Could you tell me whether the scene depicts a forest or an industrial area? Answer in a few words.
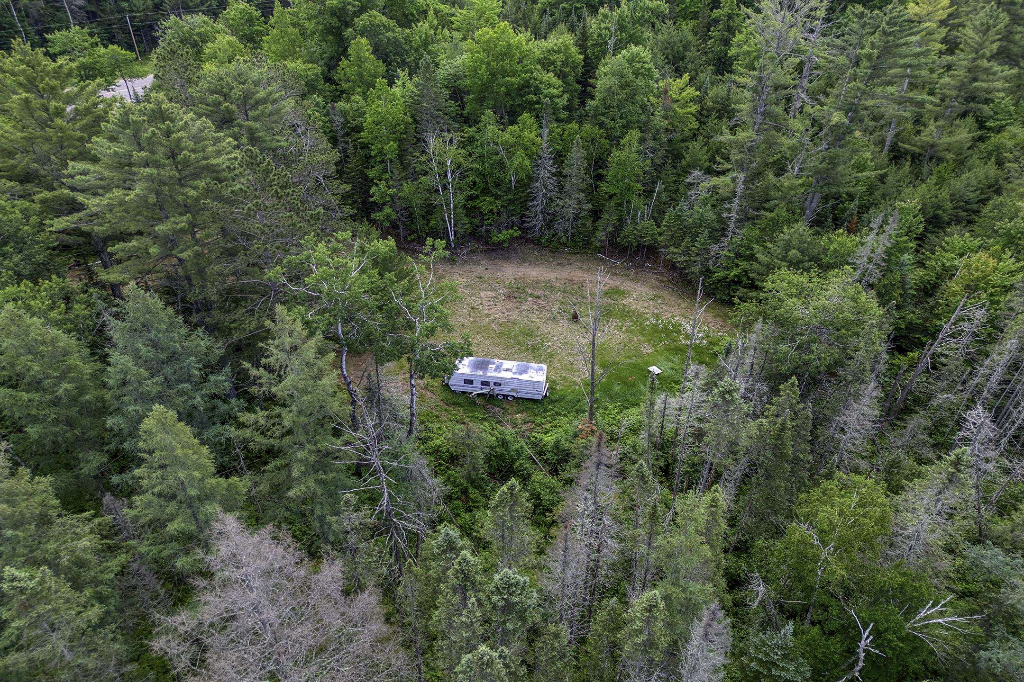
forest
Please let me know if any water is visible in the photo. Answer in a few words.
No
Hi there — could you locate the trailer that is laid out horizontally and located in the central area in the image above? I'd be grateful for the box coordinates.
[440,355,550,402]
